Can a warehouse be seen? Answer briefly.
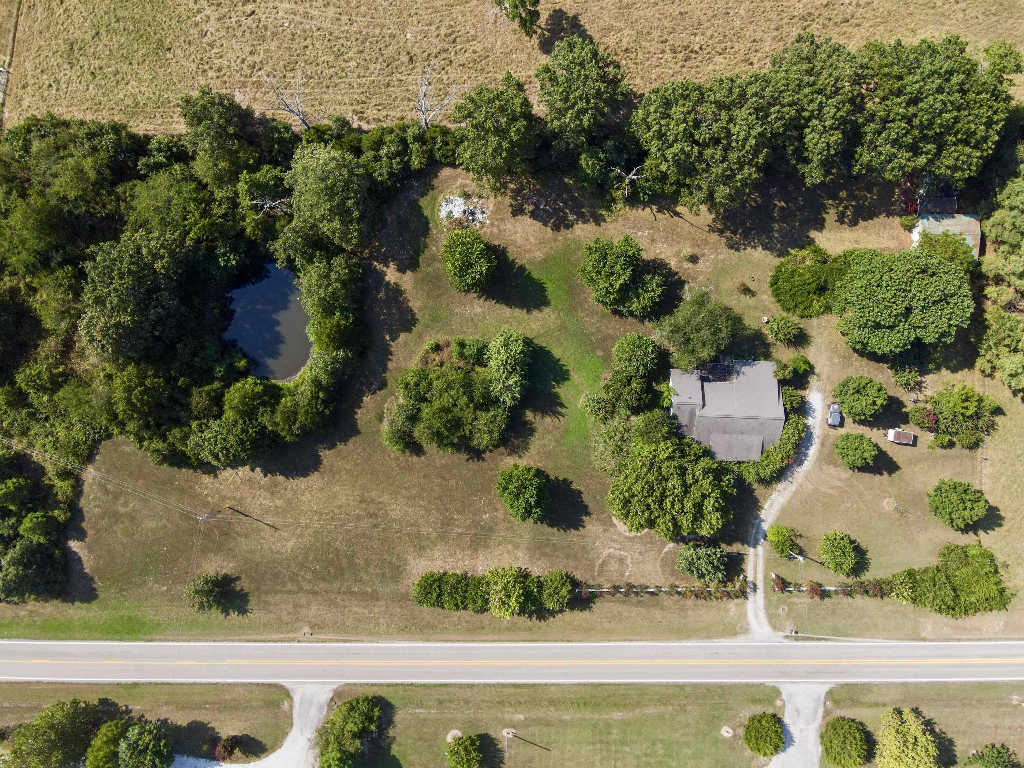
No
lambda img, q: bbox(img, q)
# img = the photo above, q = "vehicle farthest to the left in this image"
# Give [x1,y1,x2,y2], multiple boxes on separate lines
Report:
[826,402,841,427]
